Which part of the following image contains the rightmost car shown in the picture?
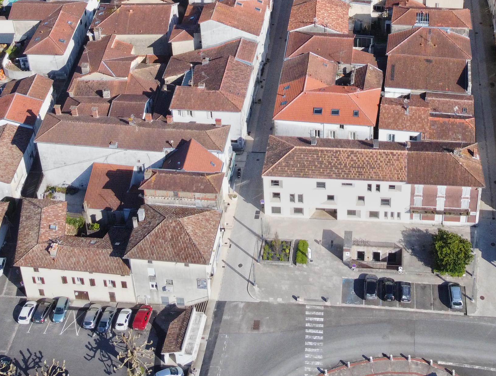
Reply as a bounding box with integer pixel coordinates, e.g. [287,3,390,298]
[448,282,463,308]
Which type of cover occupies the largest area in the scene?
buildings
